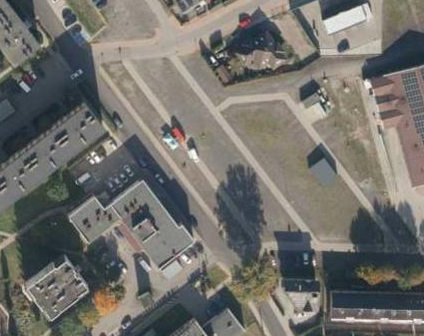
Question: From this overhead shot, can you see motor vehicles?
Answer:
Yes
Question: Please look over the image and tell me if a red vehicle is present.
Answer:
Yes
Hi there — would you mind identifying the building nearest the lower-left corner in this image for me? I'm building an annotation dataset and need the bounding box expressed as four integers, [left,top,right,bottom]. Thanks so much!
[24,257,90,322]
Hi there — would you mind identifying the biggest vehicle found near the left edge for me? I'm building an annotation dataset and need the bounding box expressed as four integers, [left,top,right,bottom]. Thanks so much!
[20,70,39,91]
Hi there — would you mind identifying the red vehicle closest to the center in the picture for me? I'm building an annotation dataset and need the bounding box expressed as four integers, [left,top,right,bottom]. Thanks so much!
[170,125,187,144]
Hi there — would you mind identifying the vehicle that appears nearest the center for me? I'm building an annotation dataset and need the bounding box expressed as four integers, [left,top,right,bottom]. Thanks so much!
[187,148,200,163]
